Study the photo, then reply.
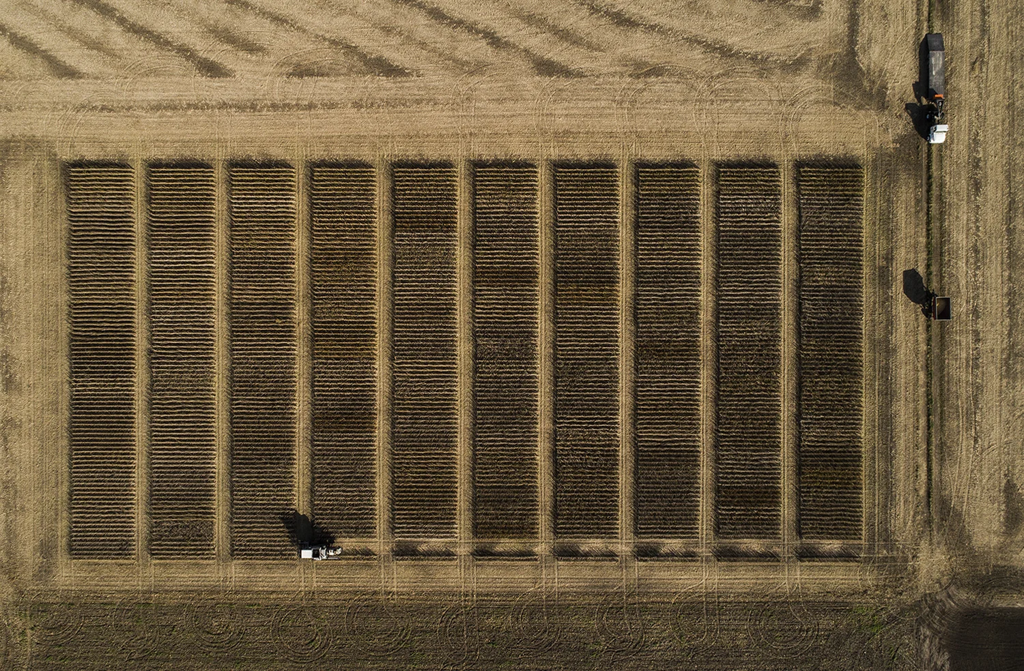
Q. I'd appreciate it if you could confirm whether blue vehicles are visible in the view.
No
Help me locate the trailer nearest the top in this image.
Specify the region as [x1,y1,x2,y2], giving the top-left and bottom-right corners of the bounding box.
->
[927,35,944,117]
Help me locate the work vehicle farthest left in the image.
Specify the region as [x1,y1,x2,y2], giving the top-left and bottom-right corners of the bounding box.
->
[297,541,342,561]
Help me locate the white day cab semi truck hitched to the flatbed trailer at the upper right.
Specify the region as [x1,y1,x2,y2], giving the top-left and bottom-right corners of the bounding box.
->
[926,108,950,145]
